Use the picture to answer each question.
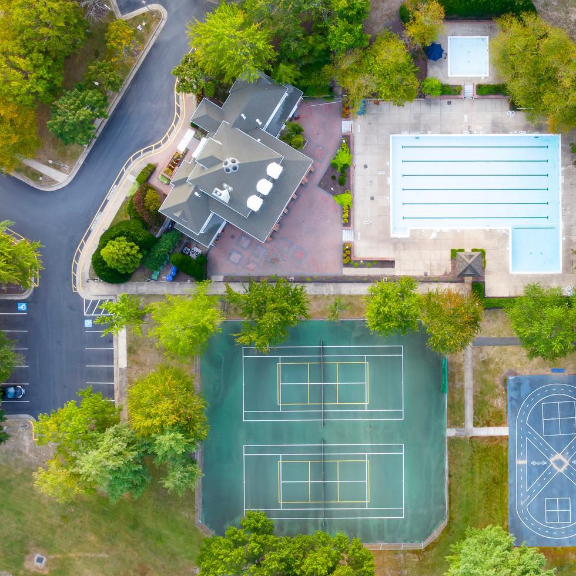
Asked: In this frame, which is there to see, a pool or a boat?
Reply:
pool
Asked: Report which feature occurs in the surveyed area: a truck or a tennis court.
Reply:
tennis court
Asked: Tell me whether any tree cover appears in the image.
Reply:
Yes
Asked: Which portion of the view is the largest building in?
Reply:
top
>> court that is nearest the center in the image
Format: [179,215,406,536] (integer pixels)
[242,340,404,428]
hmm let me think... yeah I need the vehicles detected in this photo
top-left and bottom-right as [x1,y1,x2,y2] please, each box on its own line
[0,384,26,401]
